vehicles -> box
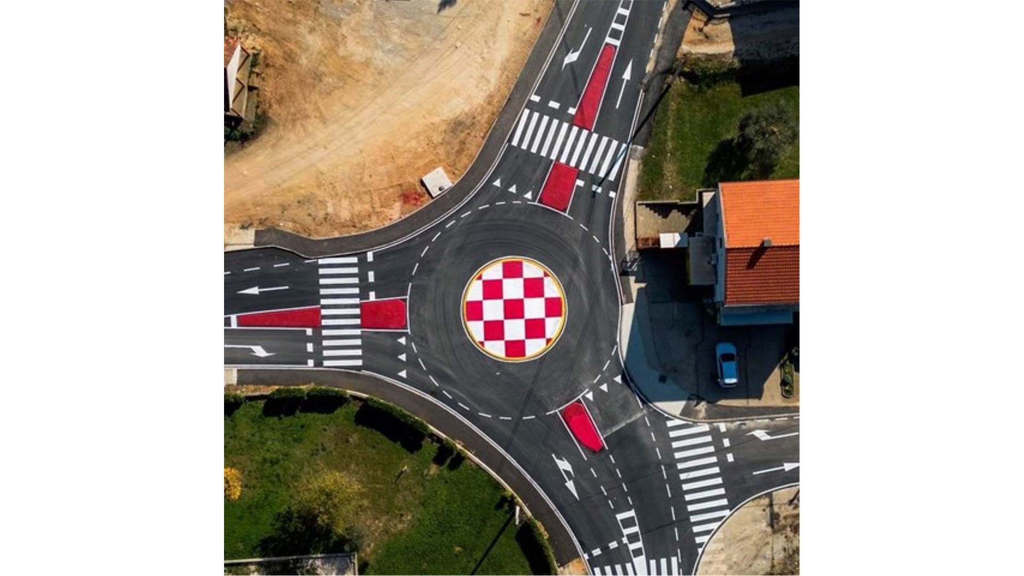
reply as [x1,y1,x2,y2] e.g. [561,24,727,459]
[716,345,740,390]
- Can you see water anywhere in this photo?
No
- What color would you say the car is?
blue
